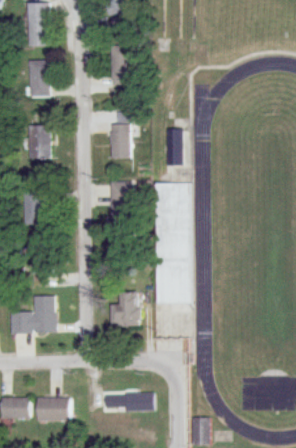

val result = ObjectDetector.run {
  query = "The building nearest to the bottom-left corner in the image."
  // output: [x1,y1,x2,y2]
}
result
[0,397,31,426]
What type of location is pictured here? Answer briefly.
sports ground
